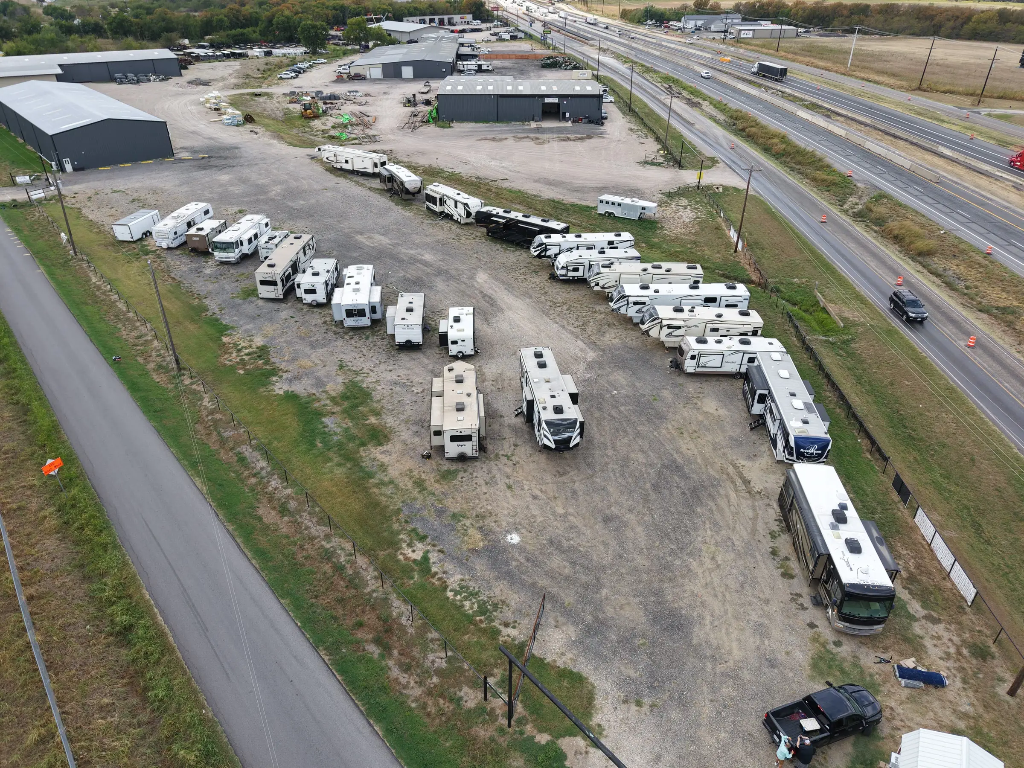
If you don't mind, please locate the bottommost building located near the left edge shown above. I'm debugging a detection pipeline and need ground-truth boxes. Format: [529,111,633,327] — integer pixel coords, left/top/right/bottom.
[0,80,174,172]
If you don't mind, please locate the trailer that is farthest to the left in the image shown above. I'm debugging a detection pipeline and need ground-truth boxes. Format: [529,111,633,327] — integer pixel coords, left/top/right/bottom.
[111,210,160,242]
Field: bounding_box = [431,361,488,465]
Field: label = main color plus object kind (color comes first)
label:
white vehicle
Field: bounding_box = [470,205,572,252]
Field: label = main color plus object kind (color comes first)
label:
black camper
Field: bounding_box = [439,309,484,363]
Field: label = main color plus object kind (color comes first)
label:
white vehicle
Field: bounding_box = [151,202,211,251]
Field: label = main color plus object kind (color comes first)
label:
white camper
